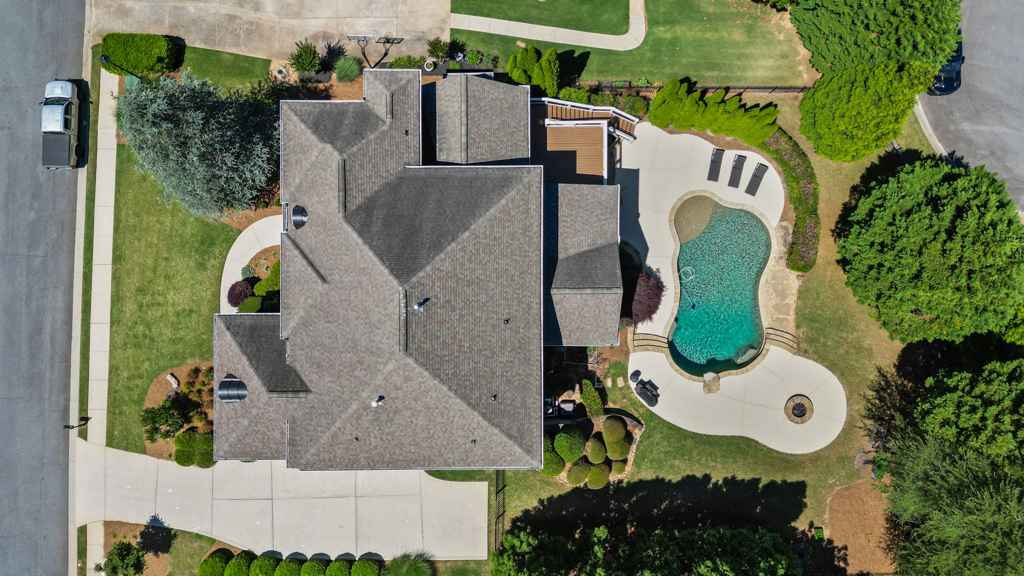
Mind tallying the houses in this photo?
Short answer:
one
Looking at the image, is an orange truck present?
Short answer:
No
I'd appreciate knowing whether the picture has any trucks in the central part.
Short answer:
No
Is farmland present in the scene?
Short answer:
No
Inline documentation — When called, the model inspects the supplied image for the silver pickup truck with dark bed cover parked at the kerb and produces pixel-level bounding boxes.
[37,77,85,170]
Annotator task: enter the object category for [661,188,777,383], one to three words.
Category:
swimming pool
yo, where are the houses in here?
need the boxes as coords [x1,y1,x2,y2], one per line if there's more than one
[212,67,623,471]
